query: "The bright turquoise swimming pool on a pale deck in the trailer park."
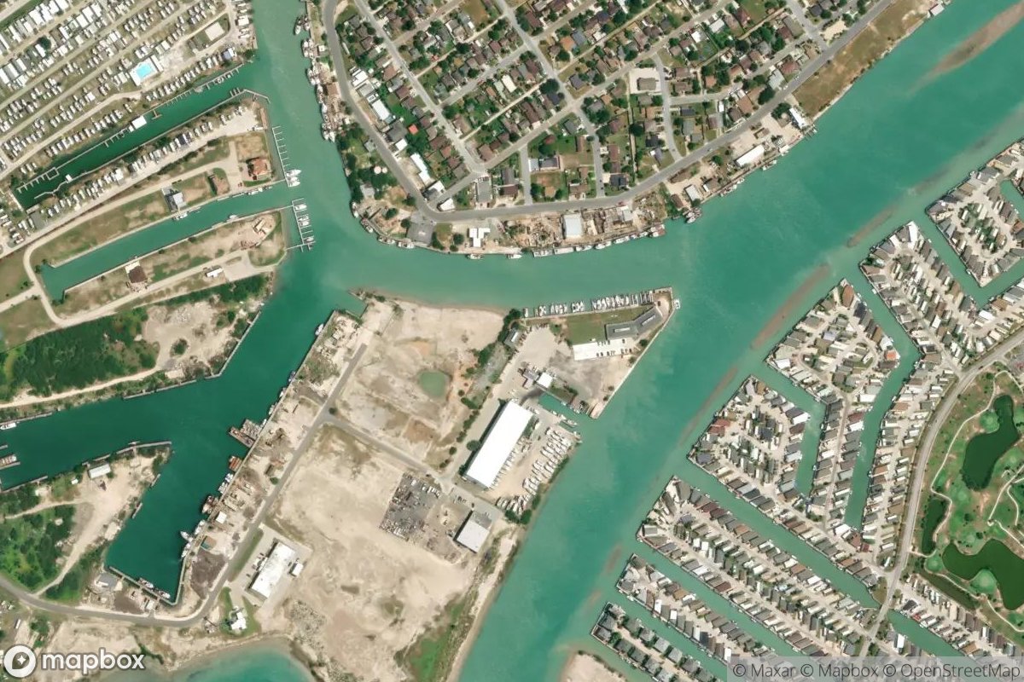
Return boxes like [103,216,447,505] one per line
[131,58,159,84]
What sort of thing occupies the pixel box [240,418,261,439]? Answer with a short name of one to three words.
ship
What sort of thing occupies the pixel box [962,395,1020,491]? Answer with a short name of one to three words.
pond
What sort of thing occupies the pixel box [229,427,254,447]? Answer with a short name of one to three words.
ship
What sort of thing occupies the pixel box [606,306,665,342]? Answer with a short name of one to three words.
building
